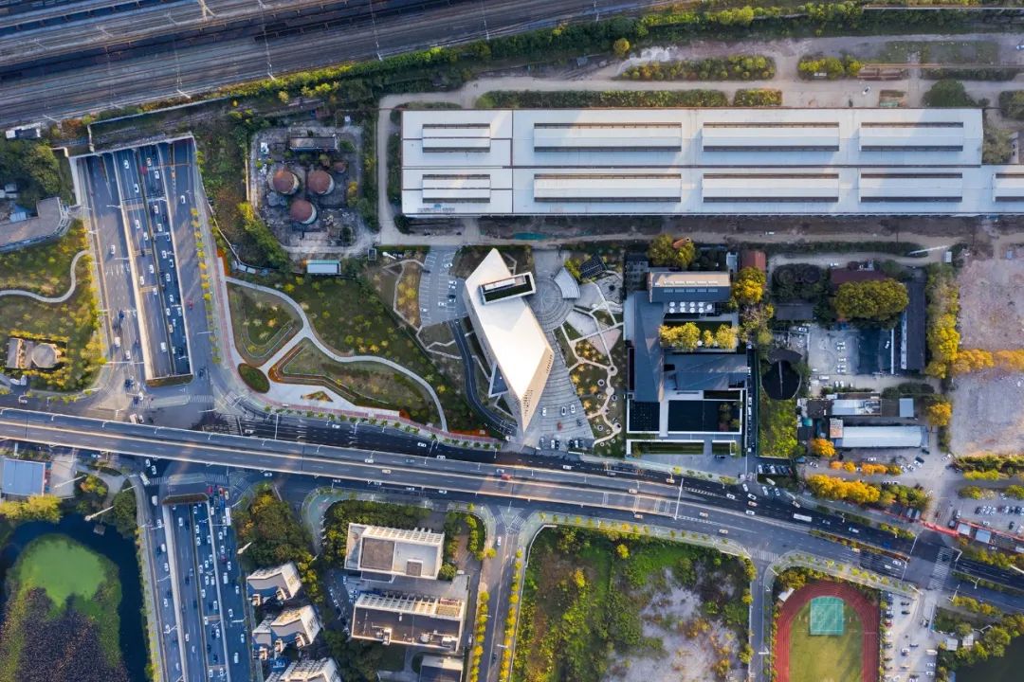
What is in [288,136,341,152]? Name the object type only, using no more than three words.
shed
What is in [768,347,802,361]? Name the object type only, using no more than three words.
shed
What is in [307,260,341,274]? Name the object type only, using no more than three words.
building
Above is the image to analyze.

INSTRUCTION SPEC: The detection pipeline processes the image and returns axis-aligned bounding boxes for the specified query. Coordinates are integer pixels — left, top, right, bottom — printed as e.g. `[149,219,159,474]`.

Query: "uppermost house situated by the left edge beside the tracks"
[5,127,44,142]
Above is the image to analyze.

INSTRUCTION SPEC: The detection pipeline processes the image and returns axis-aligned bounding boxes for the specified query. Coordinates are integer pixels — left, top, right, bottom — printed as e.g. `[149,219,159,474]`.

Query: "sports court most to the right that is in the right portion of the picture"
[811,598,844,636]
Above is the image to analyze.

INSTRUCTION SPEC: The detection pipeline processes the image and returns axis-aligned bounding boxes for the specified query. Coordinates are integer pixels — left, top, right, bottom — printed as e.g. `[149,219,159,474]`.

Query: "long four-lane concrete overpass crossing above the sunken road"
[0,408,679,519]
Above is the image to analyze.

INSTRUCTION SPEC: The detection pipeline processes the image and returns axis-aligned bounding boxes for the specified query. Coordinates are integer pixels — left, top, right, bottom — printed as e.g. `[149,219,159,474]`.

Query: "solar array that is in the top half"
[579,254,607,279]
